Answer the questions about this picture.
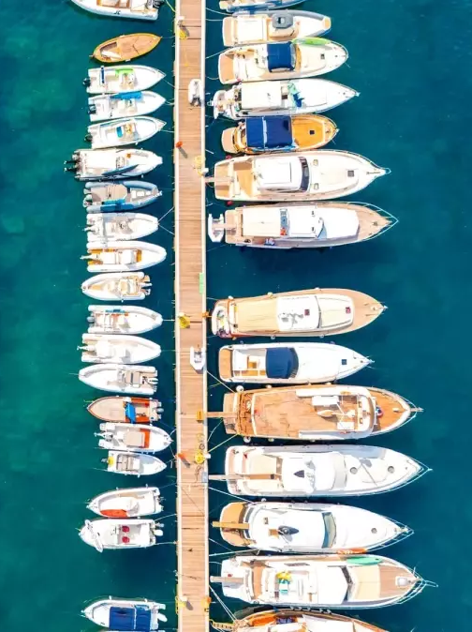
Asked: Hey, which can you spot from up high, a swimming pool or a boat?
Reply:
boat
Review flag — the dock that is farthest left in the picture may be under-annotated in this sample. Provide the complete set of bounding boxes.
[172,0,209,632]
